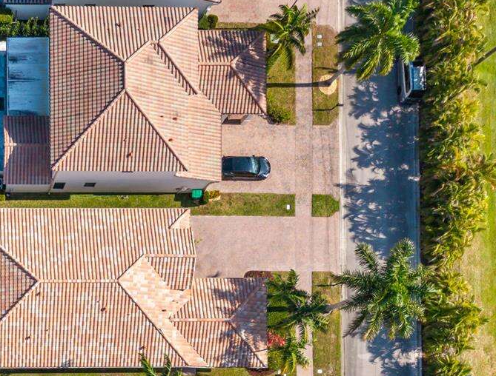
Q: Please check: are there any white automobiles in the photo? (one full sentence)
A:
No, there isn't any white automobile down there.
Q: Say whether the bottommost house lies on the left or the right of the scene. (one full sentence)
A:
The bottommost house appears in the left half of the scene.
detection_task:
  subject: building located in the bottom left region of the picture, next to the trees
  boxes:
[0,206,269,369]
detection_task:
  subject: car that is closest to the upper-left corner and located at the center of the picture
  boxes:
[218,153,271,180]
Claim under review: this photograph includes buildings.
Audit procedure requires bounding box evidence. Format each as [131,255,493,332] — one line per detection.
[3,3,268,193]
[0,206,269,369]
